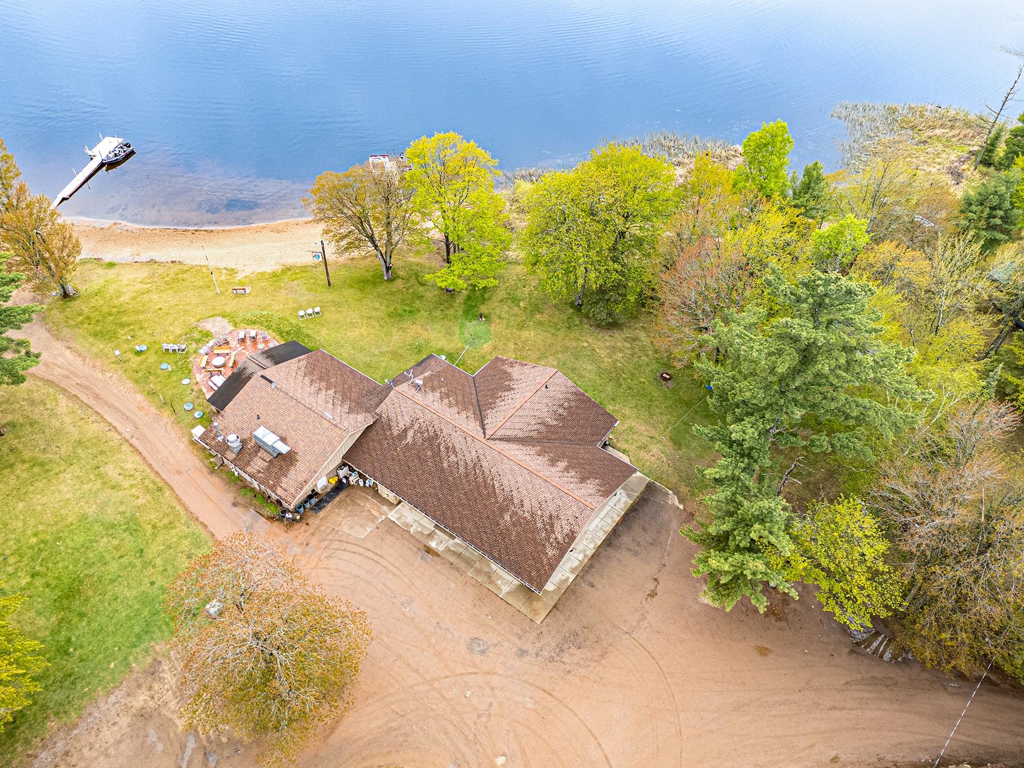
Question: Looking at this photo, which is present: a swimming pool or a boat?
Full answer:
I can see a boat in this picture.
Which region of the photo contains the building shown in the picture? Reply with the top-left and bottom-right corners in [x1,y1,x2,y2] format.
[199,340,638,600]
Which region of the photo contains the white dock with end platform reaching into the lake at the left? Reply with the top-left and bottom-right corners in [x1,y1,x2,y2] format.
[51,132,124,210]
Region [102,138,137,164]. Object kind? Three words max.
boat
